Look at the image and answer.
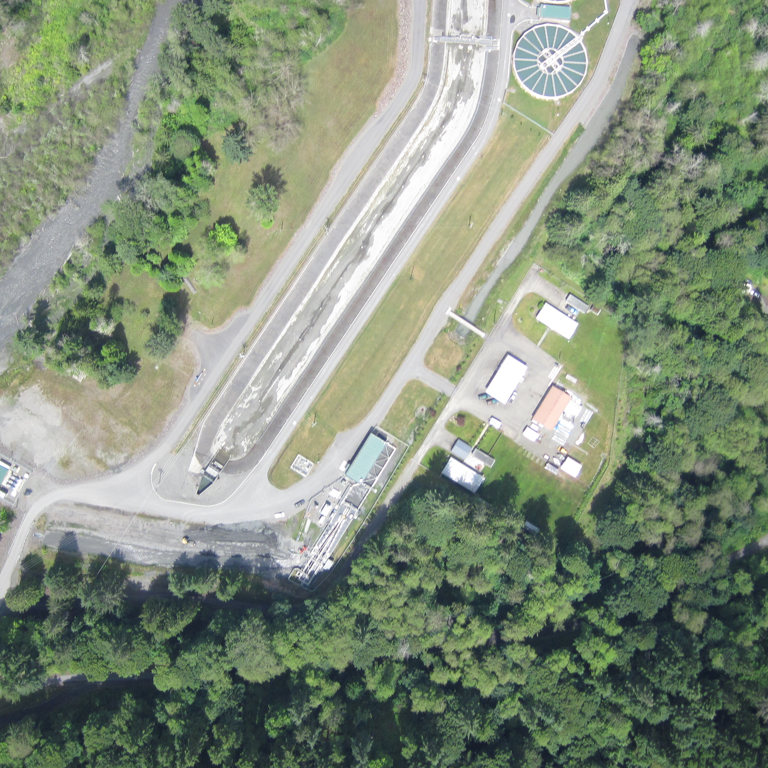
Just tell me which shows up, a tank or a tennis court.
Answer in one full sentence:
I can see a tank in this picture.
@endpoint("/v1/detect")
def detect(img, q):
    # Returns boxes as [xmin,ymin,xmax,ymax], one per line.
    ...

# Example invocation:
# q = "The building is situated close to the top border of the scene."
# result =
[540,4,572,22]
